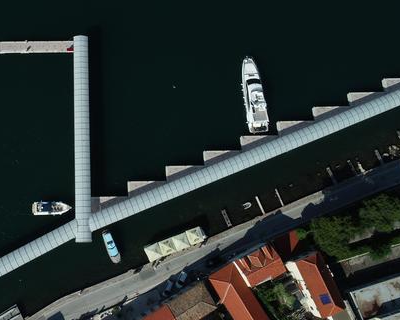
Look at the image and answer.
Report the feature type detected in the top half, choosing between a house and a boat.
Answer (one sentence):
Looking in the top half, you will find a boat.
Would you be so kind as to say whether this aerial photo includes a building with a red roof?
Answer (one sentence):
Yes, a building with a red roof can be made out from above.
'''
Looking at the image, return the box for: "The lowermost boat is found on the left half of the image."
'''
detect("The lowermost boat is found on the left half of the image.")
[102,229,120,264]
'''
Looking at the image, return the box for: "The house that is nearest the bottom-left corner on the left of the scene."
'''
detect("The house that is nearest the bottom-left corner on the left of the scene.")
[138,305,175,320]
